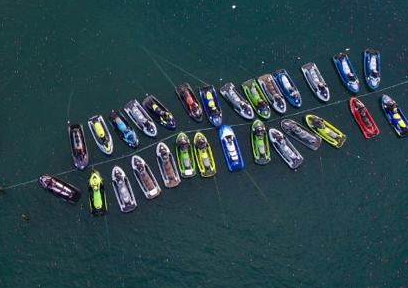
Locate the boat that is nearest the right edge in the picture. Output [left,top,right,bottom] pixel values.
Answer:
[378,90,408,139]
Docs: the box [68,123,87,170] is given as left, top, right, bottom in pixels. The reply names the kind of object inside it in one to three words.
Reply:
boat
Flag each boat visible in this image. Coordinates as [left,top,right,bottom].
[270,67,302,109]
[132,152,163,202]
[193,130,218,180]
[240,77,271,119]
[303,108,348,152]
[108,110,137,147]
[350,97,381,141]
[266,119,305,172]
[364,48,382,92]
[38,176,83,206]
[197,82,221,126]
[297,61,329,103]
[157,139,182,191]
[175,130,196,181]
[329,51,359,94]
[378,90,408,139]
[88,167,105,218]
[113,159,139,216]
[87,114,113,158]
[250,119,271,170]
[122,97,156,140]
[173,81,203,129]
[217,79,253,119]
[68,123,87,170]
[255,72,286,115]
[141,92,175,131]
[279,116,323,154]
[221,124,247,176]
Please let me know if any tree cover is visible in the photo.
No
